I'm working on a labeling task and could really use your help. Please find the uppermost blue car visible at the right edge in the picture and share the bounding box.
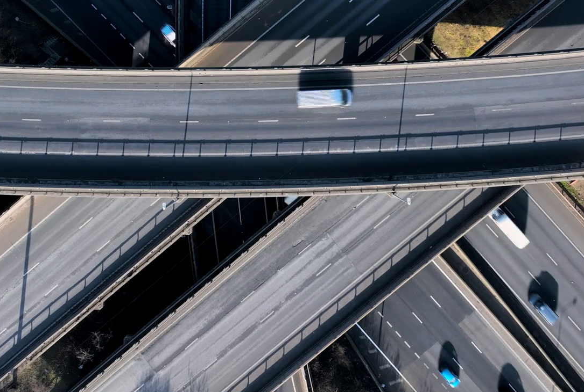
[528,293,558,325]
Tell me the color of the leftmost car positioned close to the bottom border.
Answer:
blue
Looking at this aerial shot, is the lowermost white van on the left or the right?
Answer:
right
